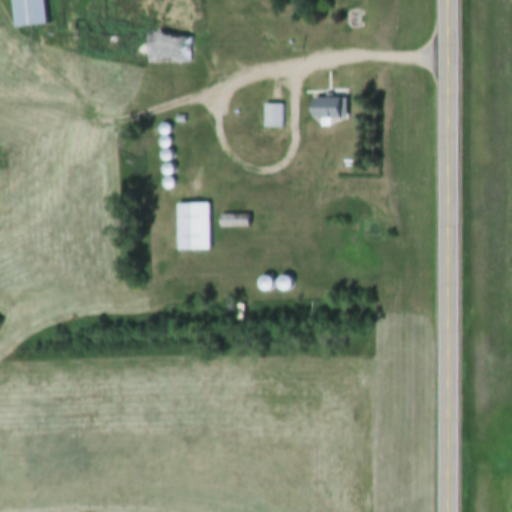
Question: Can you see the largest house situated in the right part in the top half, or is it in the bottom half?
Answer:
top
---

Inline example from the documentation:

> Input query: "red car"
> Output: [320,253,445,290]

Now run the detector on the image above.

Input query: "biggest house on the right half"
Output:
[310,92,348,127]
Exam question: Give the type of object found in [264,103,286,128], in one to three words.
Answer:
shed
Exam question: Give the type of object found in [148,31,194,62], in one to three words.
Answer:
barn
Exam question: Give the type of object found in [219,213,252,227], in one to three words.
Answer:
shed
